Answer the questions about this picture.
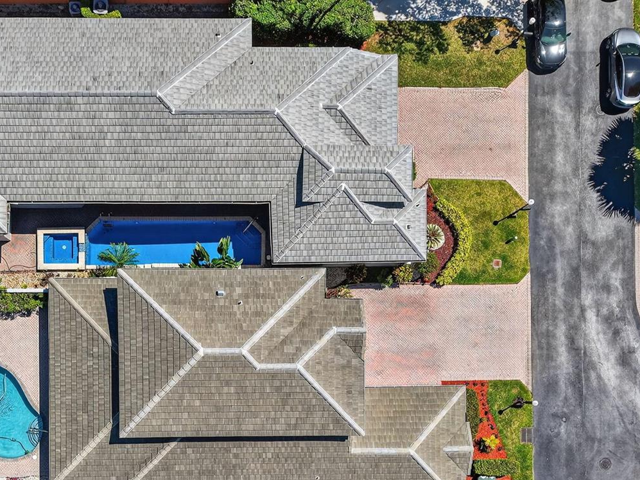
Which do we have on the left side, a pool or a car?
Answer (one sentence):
There is a pool on the left side.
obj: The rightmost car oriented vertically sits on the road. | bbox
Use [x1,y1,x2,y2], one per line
[606,30,640,109]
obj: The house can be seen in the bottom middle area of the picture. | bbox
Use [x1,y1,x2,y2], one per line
[47,265,474,480]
